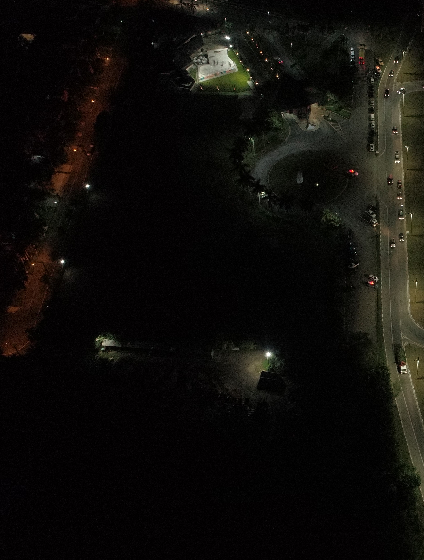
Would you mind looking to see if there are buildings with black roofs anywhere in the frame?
Yes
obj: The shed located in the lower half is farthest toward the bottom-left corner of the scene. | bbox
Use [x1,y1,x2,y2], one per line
[100,339,160,355]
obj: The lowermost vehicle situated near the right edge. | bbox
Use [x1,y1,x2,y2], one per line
[396,345,409,377]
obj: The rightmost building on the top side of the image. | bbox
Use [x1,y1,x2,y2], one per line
[271,78,319,127]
